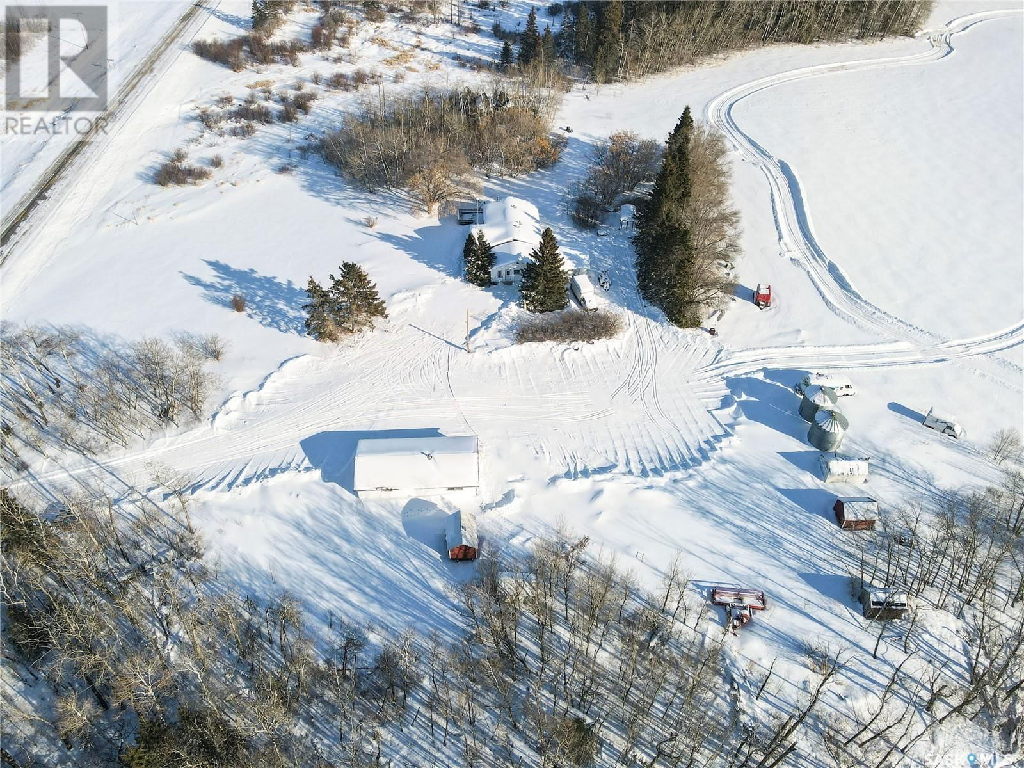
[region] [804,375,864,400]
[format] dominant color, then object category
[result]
white camper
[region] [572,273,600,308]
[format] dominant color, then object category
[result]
white van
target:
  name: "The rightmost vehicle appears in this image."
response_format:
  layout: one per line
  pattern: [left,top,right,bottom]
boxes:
[921,406,968,442]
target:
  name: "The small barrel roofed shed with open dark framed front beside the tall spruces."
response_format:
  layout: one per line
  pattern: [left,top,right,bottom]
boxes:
[617,207,637,229]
